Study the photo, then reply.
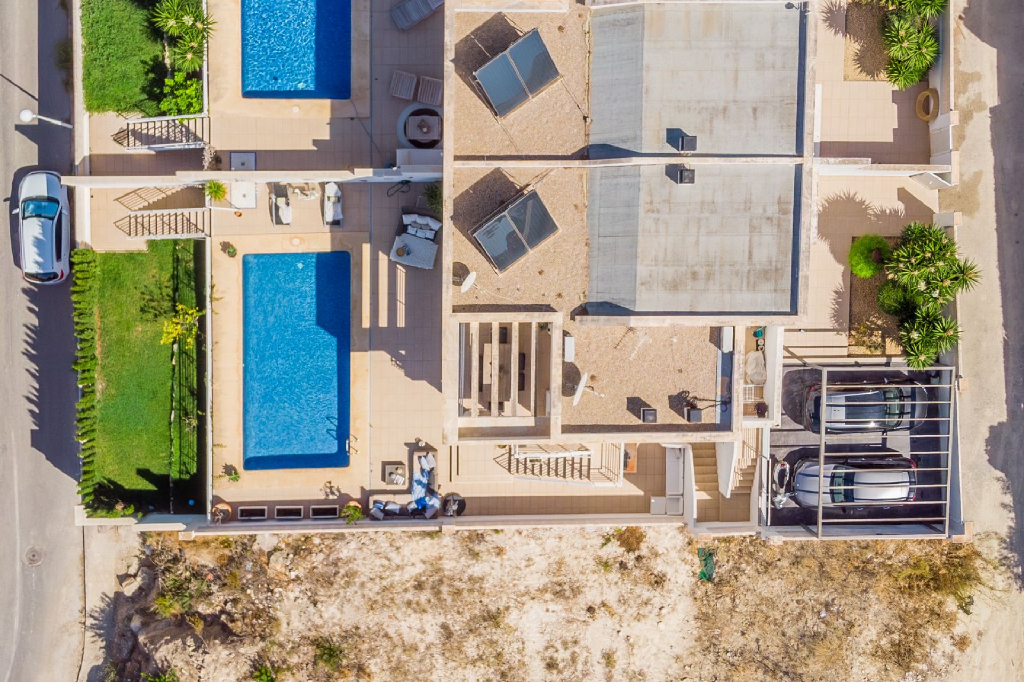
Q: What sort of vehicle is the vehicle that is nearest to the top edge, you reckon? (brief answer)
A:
automobile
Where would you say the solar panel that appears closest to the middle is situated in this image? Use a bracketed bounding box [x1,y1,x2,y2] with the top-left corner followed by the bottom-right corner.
[472,186,558,273]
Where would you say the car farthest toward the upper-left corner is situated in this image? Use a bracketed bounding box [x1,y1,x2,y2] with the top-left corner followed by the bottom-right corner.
[11,172,74,283]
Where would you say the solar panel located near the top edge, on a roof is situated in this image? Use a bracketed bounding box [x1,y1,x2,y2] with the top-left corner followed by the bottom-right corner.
[472,25,560,119]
